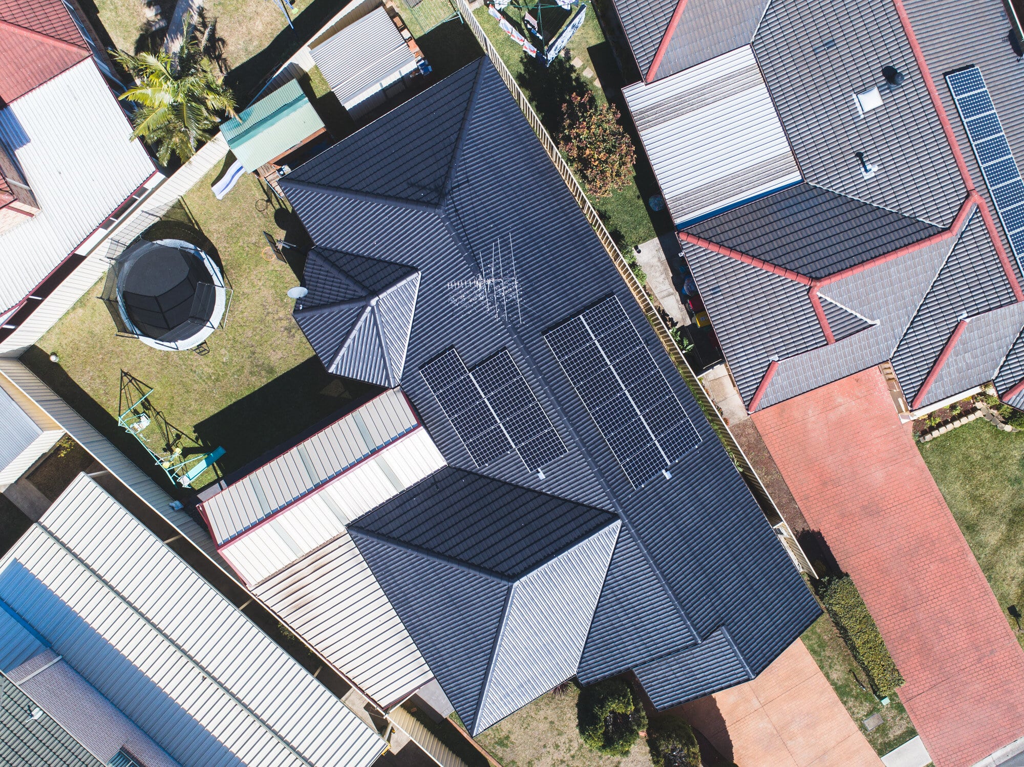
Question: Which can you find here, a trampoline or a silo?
trampoline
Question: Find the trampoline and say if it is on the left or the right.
left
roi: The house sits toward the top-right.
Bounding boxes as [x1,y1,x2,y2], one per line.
[606,0,1024,413]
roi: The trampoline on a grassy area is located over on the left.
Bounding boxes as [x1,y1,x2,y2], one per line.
[88,230,235,354]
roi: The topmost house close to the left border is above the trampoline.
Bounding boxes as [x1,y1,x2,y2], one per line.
[0,0,168,121]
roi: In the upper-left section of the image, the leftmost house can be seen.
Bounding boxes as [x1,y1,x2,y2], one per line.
[0,145,42,237]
